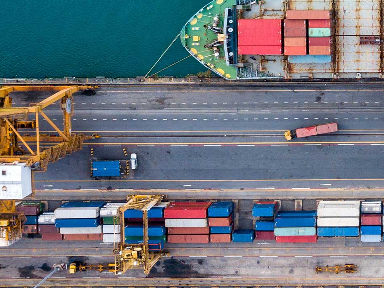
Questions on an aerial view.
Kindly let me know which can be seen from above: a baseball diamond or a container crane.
container crane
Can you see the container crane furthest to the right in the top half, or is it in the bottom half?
bottom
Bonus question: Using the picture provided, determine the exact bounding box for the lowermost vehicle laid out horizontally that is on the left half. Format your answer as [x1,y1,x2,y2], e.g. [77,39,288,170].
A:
[66,264,120,277]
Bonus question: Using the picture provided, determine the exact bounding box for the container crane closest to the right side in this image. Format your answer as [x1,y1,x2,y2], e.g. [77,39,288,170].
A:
[111,192,171,279]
